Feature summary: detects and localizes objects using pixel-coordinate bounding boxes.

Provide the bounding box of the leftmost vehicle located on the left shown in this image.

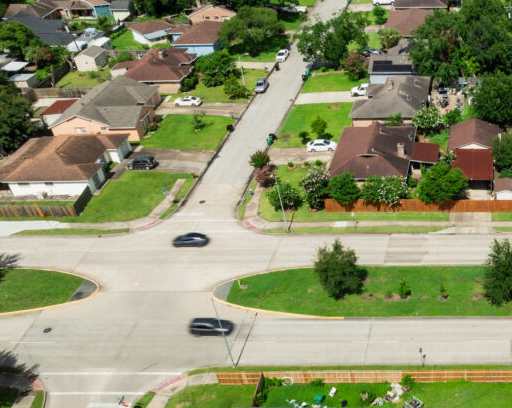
[130,155,159,169]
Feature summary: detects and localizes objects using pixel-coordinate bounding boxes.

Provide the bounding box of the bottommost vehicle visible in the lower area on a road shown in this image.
[188,315,234,335]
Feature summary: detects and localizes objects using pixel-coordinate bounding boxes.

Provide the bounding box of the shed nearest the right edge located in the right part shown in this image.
[494,179,512,201]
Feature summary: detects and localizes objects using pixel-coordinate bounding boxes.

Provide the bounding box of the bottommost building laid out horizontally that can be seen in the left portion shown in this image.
[0,133,148,195]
